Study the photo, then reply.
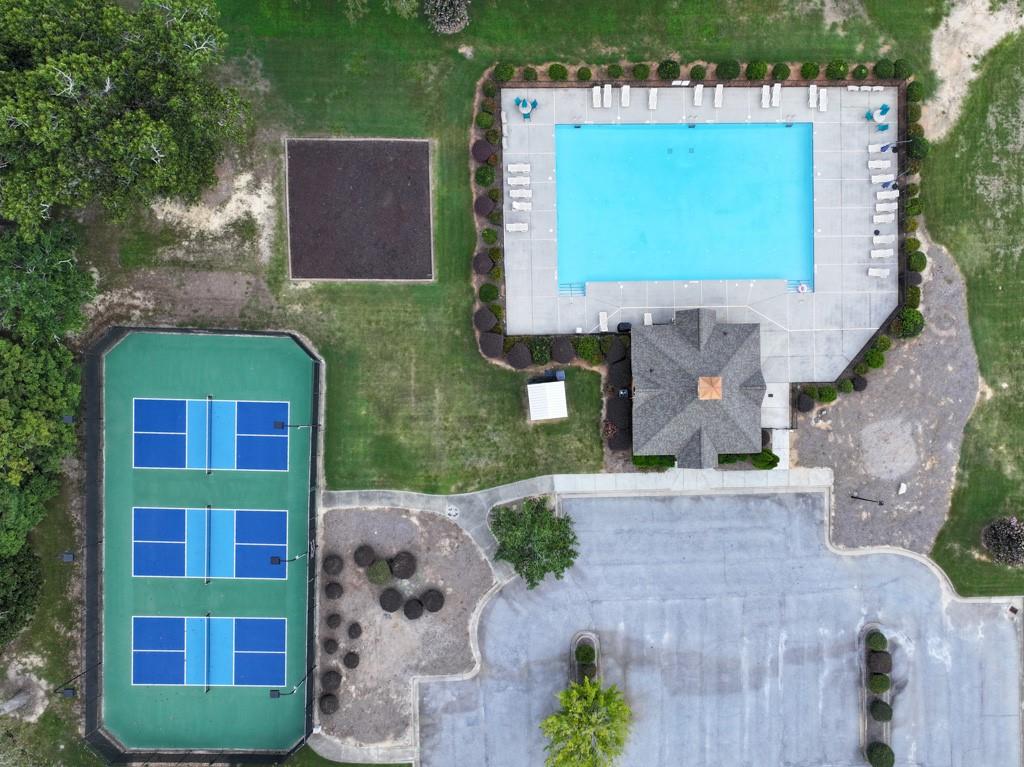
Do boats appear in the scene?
No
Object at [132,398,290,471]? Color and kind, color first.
blue sports court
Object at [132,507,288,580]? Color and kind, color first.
blue sports court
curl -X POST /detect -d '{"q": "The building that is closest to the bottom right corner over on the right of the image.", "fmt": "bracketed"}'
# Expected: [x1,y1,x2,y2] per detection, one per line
[631,307,768,469]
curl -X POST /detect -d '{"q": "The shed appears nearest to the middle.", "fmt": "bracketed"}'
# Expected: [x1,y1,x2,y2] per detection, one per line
[527,380,568,420]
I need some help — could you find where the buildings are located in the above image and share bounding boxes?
[631,307,768,469]
[527,380,568,420]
